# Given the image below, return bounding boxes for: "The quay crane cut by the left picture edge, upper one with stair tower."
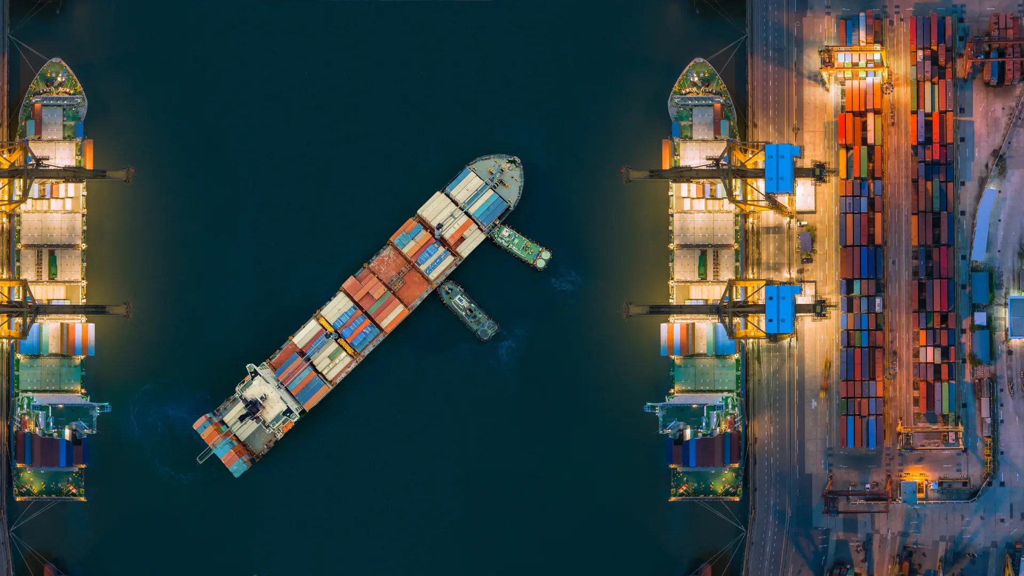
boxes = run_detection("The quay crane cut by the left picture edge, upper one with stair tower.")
[0,139,134,223]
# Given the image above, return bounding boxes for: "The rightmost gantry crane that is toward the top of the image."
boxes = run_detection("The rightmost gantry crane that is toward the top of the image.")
[964,39,1024,86]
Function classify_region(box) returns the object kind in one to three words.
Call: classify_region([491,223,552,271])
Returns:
boat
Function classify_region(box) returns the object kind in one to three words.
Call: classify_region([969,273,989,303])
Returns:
building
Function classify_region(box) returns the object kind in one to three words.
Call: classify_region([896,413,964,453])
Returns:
container crane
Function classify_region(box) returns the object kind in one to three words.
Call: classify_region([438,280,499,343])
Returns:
boat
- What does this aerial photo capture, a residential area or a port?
port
